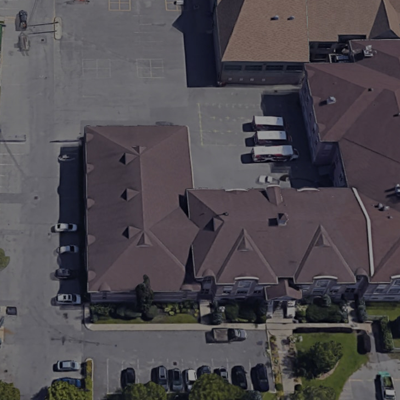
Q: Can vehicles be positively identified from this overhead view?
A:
Yes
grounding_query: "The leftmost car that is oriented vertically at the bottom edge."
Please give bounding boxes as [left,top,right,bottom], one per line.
[121,365,135,392]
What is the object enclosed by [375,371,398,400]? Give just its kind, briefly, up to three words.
truck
